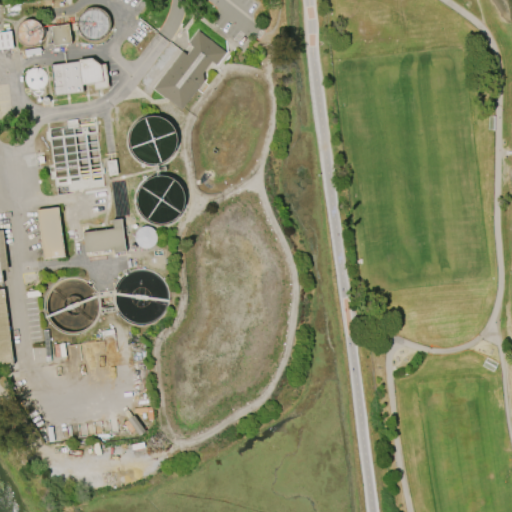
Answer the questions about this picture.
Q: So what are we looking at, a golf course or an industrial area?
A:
industrial area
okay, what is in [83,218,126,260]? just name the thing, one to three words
building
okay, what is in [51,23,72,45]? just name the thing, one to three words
building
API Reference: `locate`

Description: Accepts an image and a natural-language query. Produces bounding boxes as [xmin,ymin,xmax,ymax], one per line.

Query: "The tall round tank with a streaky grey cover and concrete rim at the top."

[78,6,111,39]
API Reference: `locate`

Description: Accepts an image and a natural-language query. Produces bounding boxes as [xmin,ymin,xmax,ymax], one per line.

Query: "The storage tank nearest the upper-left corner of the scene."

[18,18,46,46]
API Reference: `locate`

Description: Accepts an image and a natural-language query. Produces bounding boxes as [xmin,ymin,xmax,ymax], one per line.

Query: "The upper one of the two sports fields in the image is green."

[337,48,492,290]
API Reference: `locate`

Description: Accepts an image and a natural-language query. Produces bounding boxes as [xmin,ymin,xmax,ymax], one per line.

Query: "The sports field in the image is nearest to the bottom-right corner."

[400,371,512,512]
